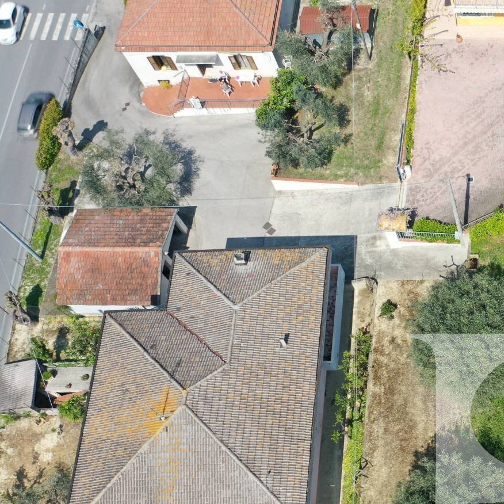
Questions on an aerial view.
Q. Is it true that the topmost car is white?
Yes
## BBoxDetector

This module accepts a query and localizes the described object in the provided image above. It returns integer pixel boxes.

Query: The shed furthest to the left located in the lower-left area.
[0,359,52,428]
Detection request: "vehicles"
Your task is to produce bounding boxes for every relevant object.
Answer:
[0,5,25,42]
[14,94,51,136]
